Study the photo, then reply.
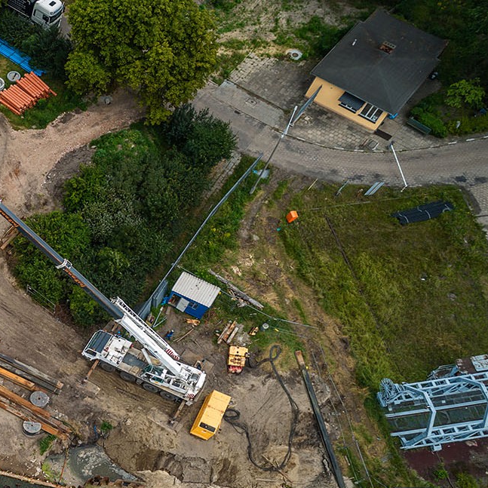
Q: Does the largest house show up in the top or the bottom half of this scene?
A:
top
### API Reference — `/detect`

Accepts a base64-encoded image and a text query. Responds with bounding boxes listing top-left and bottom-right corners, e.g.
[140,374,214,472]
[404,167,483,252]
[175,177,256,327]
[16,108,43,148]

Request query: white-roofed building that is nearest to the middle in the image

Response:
[169,272,220,321]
